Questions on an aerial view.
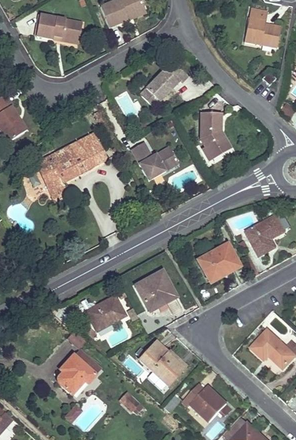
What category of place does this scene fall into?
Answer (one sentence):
This looks like a residential area.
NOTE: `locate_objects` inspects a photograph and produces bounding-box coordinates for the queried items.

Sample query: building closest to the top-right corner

[244,7,282,50]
